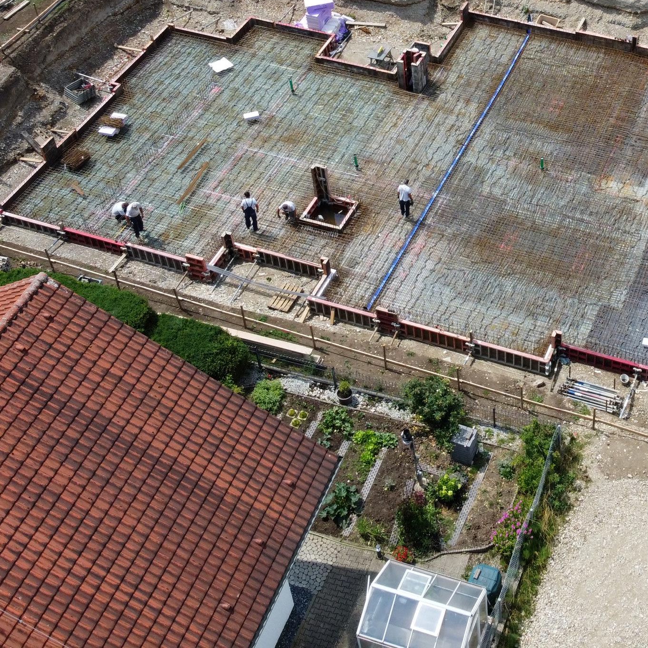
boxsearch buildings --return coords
[356,559,489,648]
[0,273,349,648]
